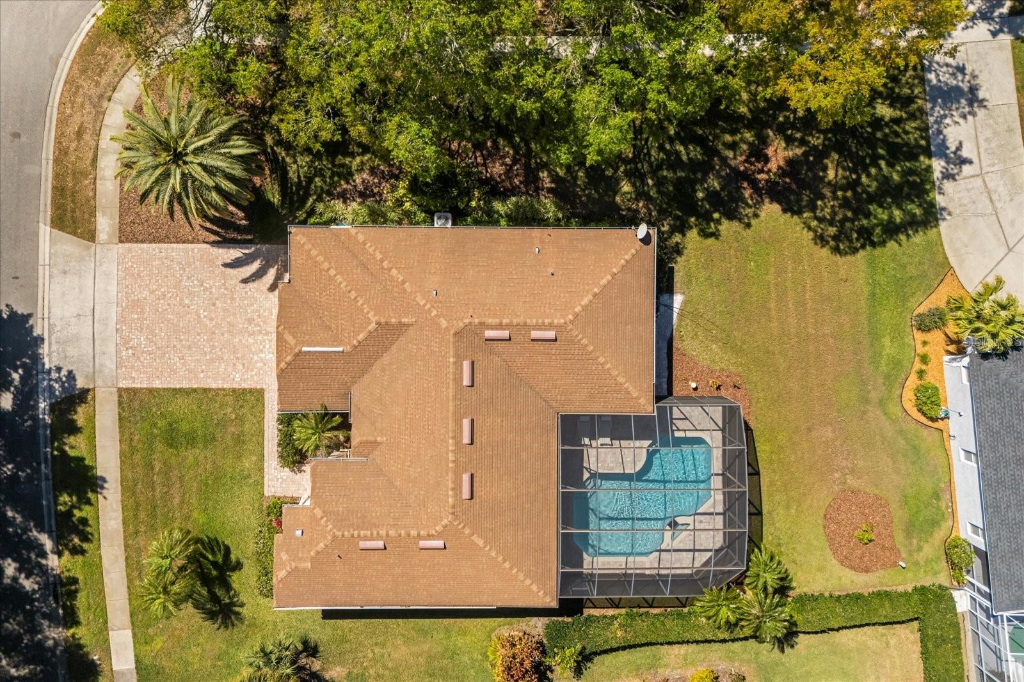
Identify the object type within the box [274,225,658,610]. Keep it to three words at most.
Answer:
house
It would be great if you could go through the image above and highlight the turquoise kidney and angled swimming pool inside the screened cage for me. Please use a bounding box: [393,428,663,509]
[569,432,717,562]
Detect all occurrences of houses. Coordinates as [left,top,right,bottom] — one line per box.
[941,325,1024,619]
[274,225,658,610]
